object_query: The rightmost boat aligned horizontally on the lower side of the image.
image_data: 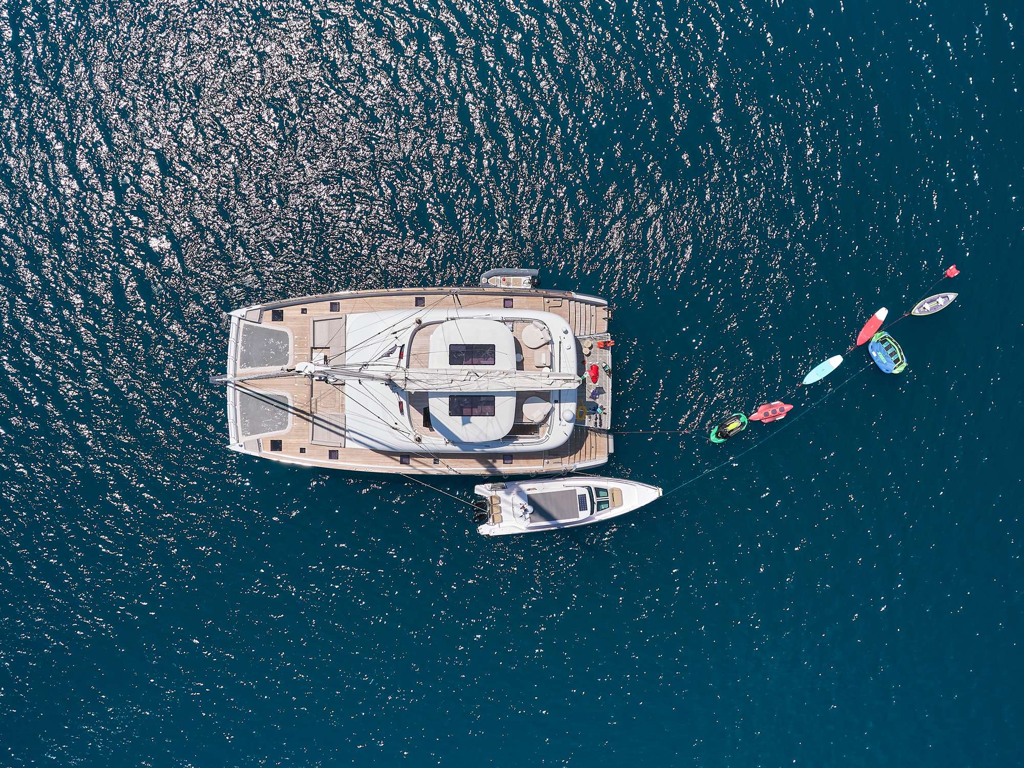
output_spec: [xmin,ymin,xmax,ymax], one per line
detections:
[473,476,663,536]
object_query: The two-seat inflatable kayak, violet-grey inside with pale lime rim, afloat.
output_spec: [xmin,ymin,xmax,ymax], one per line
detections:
[911,293,957,315]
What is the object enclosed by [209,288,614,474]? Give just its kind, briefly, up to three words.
boat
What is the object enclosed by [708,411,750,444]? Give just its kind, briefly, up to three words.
boat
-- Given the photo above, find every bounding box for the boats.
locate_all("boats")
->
[708,411,750,444]
[209,288,614,474]
[473,476,663,536]
[480,268,540,289]
[911,293,957,315]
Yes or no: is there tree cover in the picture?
No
